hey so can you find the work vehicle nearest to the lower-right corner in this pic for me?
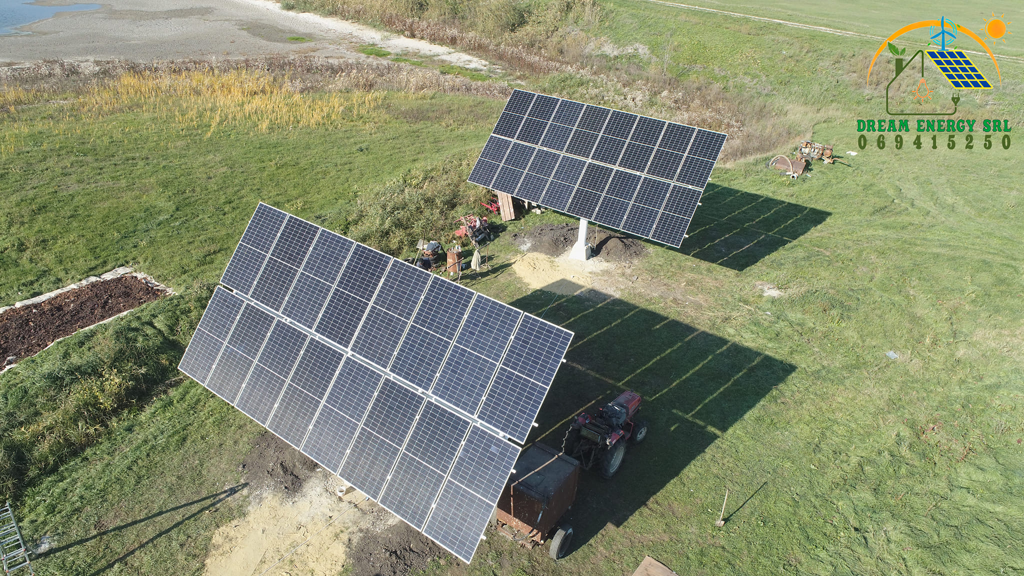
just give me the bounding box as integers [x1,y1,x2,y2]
[563,392,650,479]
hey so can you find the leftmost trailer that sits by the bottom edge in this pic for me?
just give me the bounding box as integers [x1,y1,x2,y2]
[493,435,581,554]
